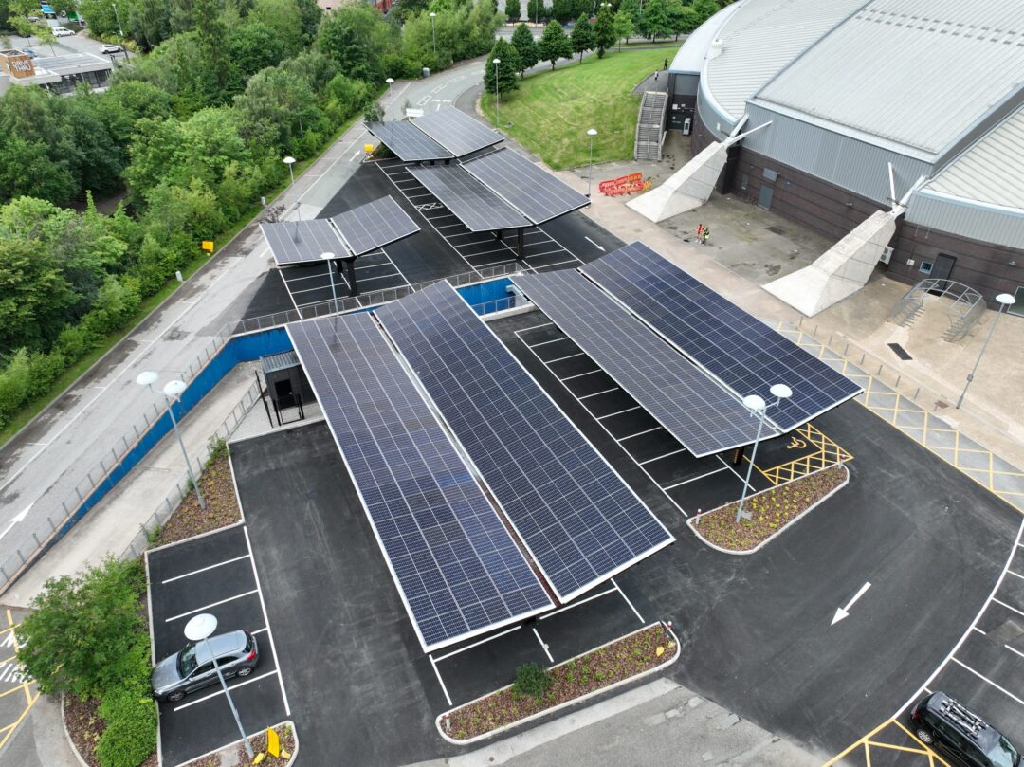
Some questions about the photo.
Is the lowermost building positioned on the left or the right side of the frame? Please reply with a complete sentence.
The lowermost building sits on the left side.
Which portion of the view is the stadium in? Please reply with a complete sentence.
The stadium is located in the top right region of the scene.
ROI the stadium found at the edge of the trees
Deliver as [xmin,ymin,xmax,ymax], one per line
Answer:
[665,0,1024,317]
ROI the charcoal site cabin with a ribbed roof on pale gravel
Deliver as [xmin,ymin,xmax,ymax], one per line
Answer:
[254,347,317,411]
